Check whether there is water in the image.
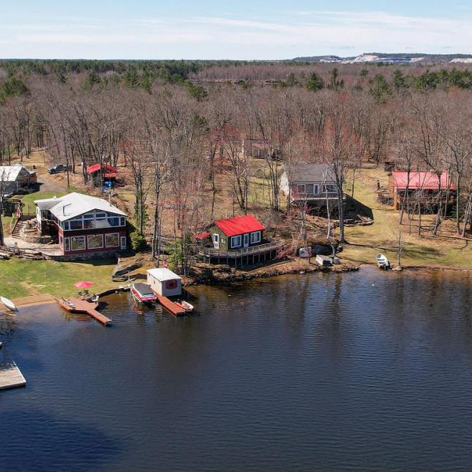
Yes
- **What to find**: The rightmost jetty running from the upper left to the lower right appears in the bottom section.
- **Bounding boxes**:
[159,296,192,317]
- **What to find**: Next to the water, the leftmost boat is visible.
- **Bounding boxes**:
[1,295,18,311]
